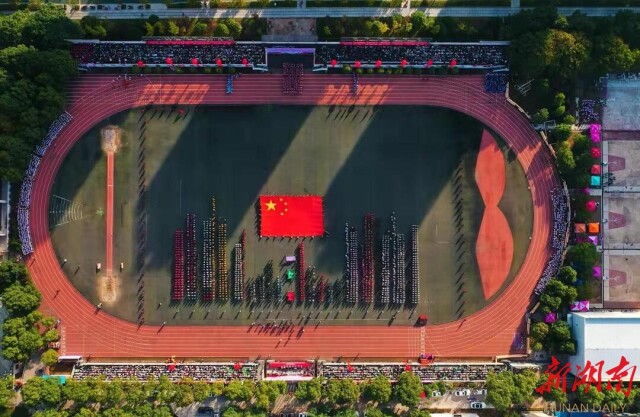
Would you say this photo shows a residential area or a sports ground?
sports ground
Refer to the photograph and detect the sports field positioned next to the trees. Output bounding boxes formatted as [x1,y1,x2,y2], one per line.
[50,104,531,324]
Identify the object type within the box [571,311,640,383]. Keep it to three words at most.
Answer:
building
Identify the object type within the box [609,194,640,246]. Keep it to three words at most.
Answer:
basketball court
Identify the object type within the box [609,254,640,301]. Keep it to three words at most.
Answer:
basketball court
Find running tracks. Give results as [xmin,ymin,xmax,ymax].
[16,71,564,358]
